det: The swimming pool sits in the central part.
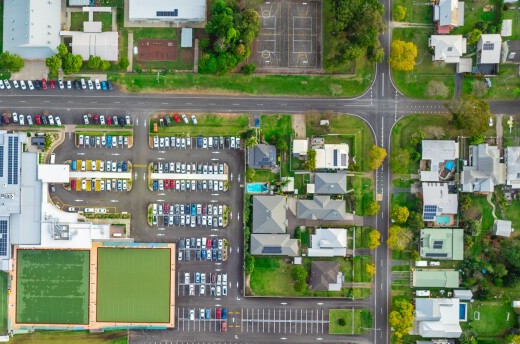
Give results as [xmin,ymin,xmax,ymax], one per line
[246,181,270,194]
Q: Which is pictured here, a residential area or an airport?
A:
residential area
